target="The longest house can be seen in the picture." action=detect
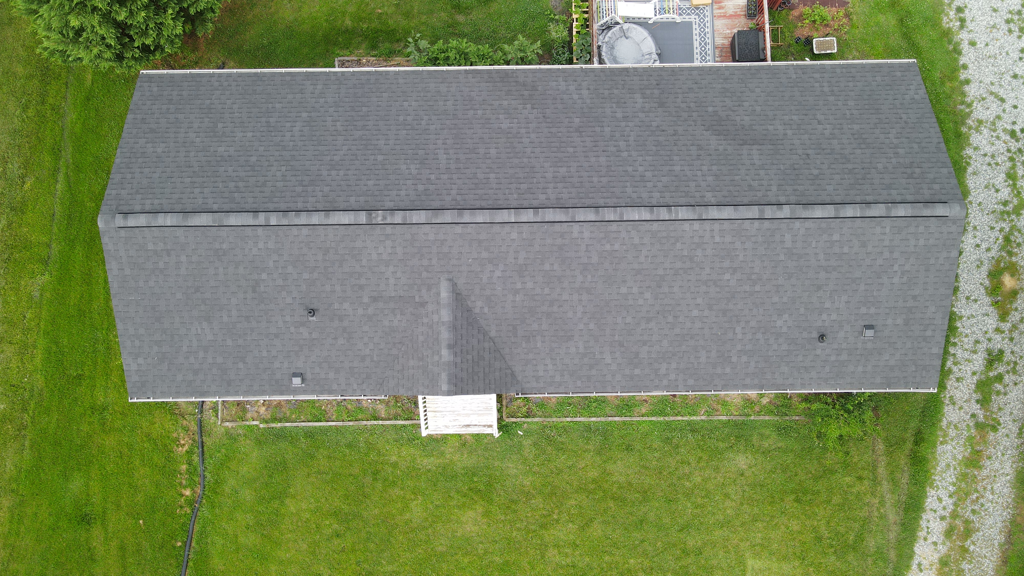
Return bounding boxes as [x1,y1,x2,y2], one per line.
[97,59,967,402]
